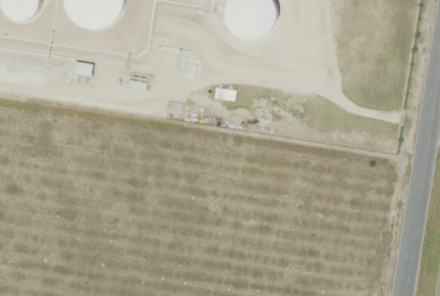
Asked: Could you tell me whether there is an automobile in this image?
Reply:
No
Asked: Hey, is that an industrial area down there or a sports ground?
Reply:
industrial area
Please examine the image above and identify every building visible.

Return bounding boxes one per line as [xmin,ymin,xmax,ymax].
[215,88,238,102]
[72,62,94,77]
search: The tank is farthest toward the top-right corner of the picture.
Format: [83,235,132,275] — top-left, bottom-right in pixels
[224,0,279,42]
